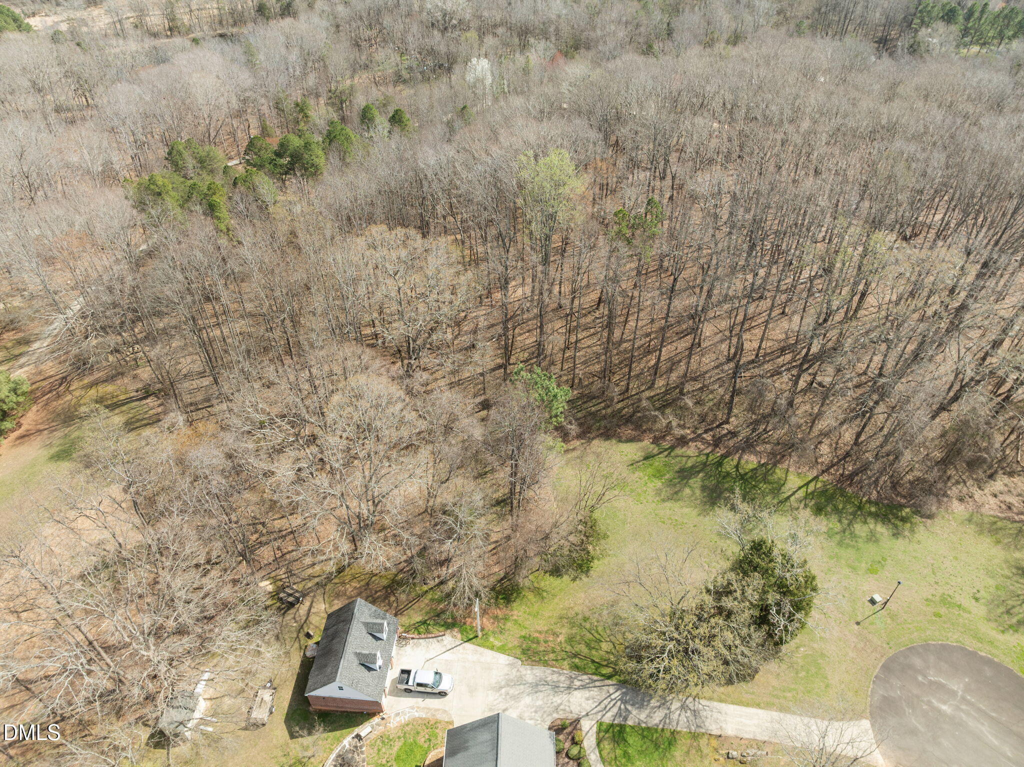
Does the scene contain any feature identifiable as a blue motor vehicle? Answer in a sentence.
No, there's no blue motor vehicle here.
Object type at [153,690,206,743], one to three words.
shed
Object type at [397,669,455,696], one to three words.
truck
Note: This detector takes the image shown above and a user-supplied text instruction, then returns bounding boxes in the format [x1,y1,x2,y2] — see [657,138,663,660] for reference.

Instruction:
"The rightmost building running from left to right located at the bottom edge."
[442,712,557,767]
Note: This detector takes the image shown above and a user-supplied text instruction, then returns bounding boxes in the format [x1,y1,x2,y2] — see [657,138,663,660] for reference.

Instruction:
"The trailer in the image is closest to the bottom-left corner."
[246,676,276,734]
